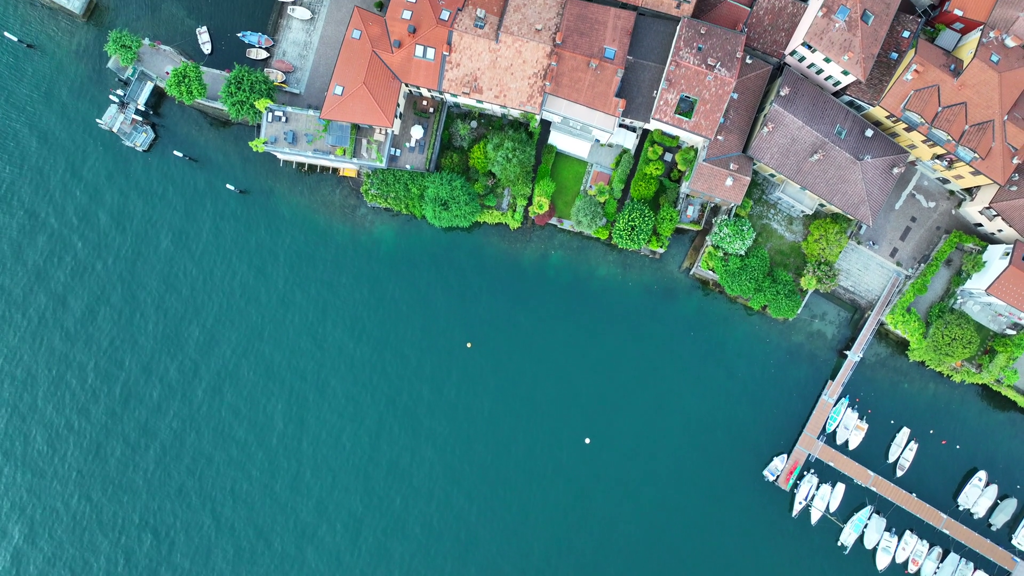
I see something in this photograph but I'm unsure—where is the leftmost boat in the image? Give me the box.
[195,24,210,55]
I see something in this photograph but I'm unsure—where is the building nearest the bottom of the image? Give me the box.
[960,239,1024,326]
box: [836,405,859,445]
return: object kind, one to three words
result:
boat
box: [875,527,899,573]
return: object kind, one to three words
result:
boat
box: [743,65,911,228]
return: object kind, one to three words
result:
house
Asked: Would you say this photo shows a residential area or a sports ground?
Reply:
residential area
